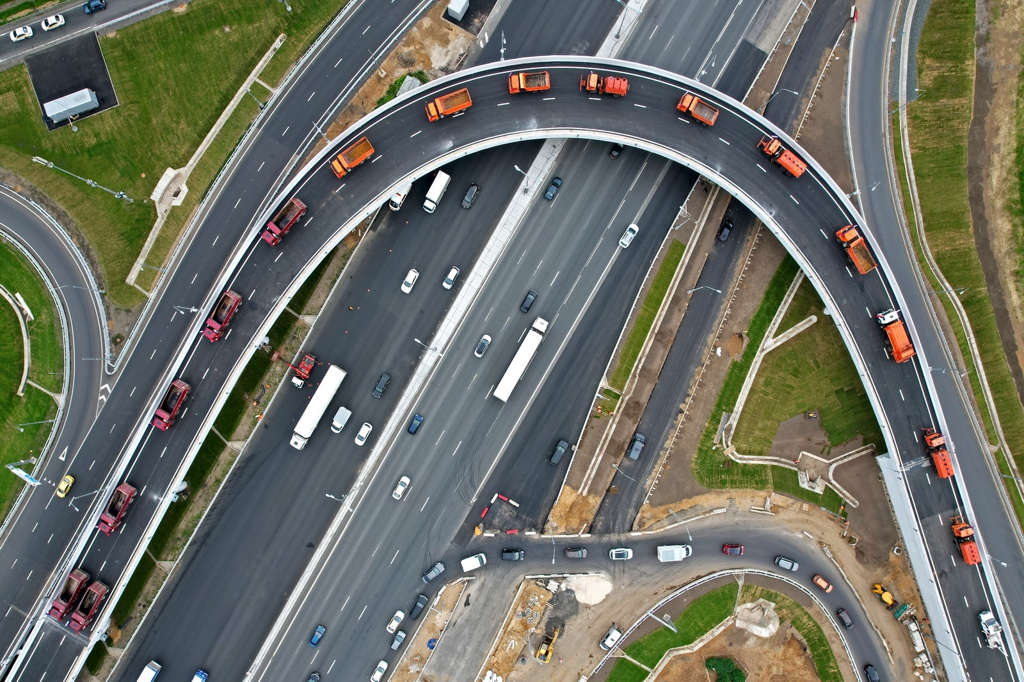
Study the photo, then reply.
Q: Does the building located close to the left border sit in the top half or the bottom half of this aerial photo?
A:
top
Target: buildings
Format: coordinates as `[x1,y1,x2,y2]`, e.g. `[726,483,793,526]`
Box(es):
[447,0,469,20]
[43,88,99,120]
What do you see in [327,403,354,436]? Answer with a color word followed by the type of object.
white vehicle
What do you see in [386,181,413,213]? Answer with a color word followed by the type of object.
white truck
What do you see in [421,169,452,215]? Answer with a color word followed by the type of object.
white truck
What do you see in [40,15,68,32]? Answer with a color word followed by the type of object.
white car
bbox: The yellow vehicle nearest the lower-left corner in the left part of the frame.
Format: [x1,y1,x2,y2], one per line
[56,472,77,498]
